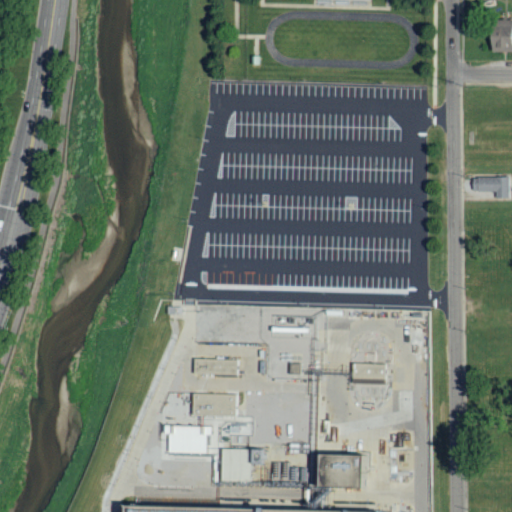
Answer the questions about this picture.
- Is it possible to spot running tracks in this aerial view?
Yes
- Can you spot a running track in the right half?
Yes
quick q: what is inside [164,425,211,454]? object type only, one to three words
building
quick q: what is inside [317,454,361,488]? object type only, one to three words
building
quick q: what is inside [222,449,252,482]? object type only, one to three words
shed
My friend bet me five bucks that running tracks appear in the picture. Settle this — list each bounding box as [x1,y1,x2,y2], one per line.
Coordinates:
[266,11,418,70]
